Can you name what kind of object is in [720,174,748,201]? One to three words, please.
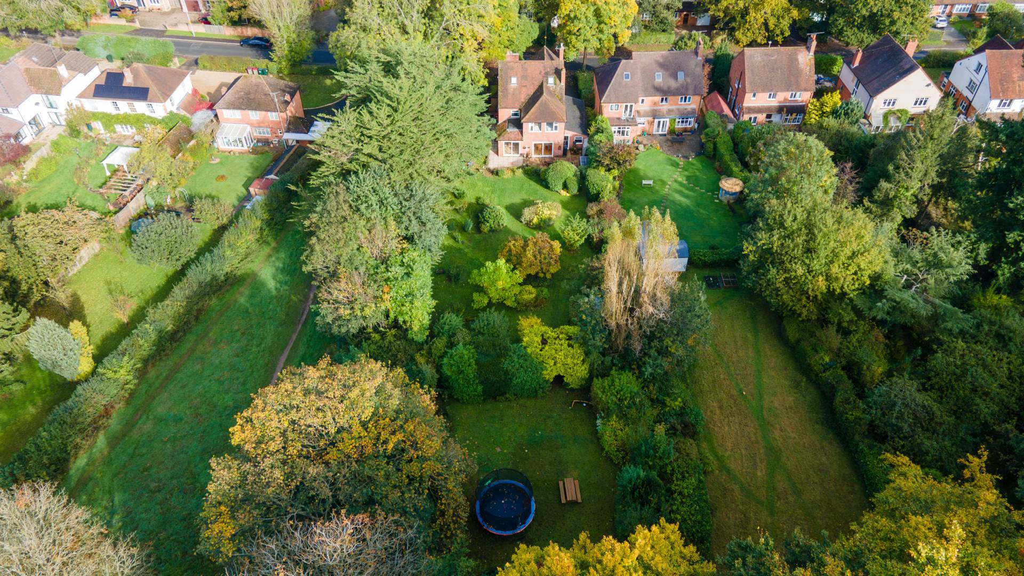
building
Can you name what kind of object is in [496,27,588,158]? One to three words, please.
house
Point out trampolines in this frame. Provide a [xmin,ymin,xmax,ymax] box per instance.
[474,471,536,549]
